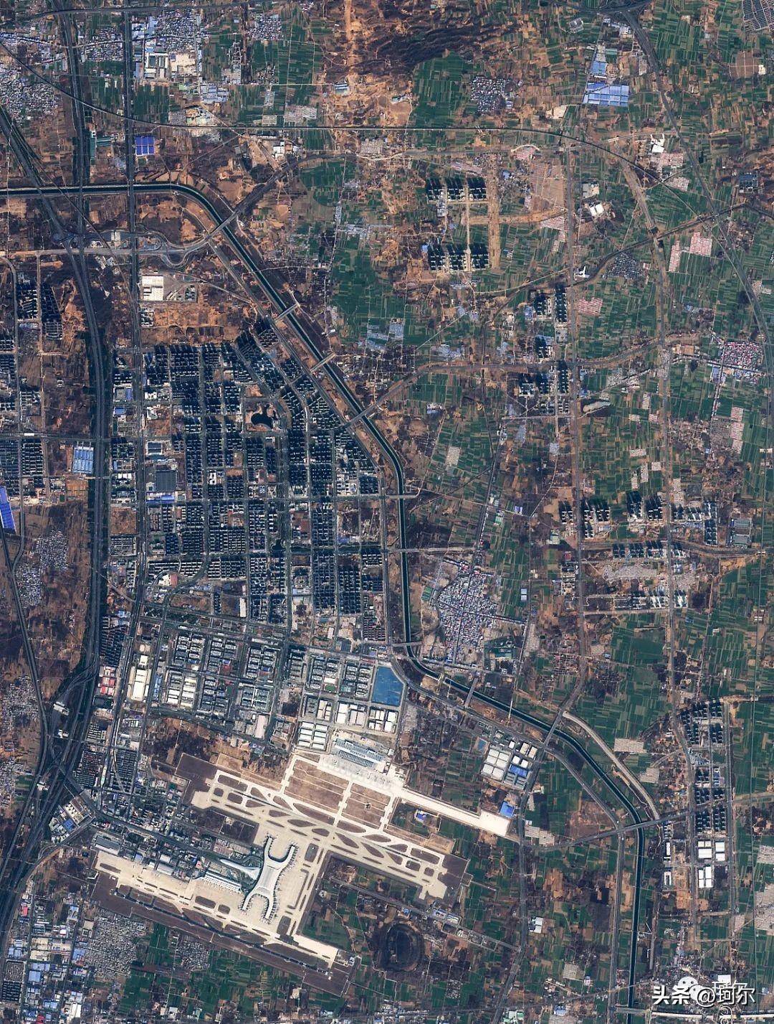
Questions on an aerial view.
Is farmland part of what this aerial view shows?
Yes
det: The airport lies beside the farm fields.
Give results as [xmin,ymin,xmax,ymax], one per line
[91,749,510,996]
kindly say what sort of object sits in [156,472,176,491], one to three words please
building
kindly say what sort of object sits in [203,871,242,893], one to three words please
building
